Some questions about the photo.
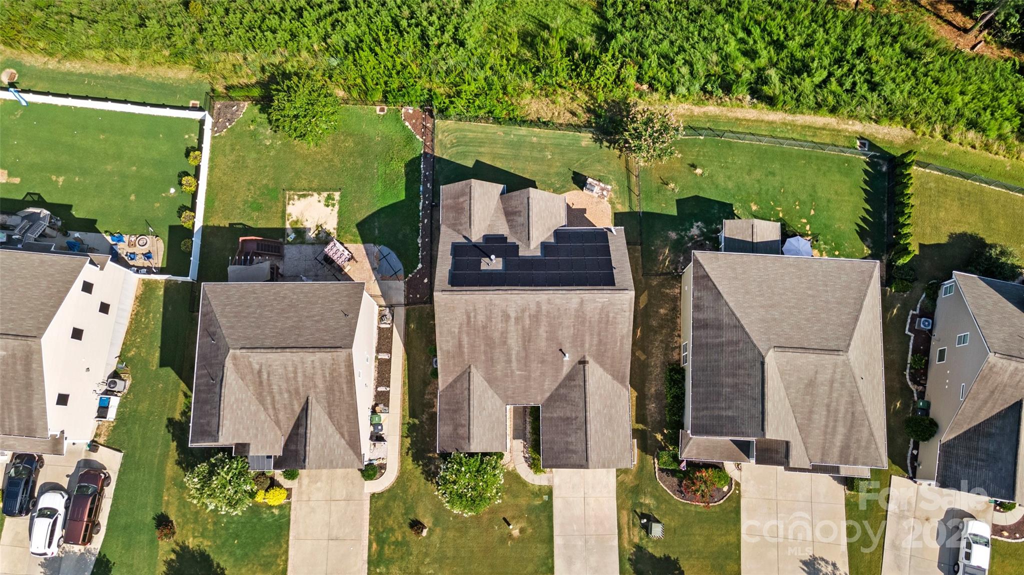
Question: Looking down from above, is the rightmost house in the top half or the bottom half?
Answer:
bottom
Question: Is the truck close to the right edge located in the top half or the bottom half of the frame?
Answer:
bottom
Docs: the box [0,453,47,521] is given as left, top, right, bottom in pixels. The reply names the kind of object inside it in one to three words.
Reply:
car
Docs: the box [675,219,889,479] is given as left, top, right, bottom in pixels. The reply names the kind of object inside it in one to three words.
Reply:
house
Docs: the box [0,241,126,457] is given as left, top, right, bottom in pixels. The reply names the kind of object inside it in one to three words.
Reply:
house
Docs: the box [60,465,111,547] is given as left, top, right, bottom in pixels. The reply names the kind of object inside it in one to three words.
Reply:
car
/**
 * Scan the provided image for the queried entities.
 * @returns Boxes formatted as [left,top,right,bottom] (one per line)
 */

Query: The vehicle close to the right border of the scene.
[951,513,1000,575]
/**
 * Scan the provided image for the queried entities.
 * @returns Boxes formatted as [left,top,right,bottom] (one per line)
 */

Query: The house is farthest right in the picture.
[914,272,1024,505]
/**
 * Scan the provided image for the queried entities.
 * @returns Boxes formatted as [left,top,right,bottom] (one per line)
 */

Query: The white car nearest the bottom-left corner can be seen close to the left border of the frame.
[26,487,69,560]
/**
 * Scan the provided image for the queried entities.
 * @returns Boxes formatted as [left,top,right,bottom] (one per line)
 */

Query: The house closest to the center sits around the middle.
[434,180,634,470]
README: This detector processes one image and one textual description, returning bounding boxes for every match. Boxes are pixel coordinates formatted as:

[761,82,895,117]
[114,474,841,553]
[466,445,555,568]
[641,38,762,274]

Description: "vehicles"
[60,465,111,547]
[26,487,69,560]
[0,453,47,521]
[951,513,1000,575]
